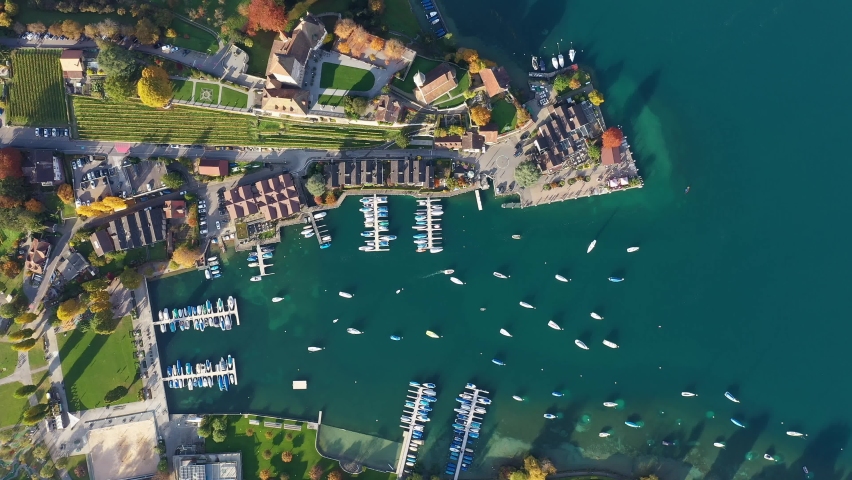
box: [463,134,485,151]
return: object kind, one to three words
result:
house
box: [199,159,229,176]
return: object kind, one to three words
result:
shed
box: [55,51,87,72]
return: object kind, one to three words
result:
house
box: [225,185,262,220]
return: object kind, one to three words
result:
building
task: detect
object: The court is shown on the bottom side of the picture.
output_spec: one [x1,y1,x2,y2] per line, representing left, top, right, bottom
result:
[87,417,159,480]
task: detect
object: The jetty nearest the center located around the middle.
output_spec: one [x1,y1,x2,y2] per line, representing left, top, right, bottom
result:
[417,197,442,250]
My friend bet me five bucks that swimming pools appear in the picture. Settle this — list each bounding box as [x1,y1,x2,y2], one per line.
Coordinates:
[318,424,401,472]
